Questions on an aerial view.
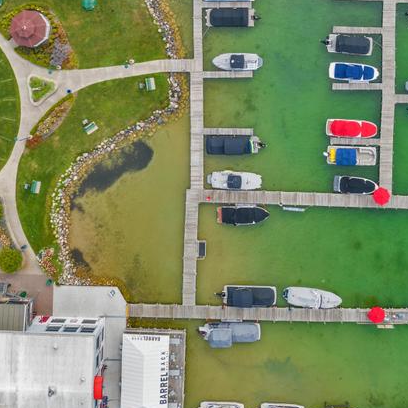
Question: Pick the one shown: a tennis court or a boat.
boat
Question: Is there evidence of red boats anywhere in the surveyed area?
Yes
